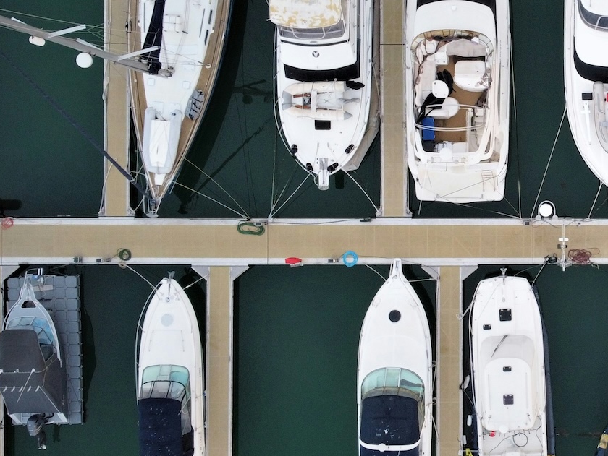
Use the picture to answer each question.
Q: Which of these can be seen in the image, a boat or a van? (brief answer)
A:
boat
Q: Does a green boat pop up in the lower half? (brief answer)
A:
No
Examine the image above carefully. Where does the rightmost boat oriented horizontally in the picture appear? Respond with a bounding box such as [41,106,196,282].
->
[278,80,368,120]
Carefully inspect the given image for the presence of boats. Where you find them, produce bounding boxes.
[266,0,374,192]
[135,268,206,456]
[469,266,547,456]
[0,269,79,450]
[278,80,368,120]
[0,0,234,218]
[564,0,608,186]
[357,259,432,456]
[403,0,510,214]
[141,111,185,176]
